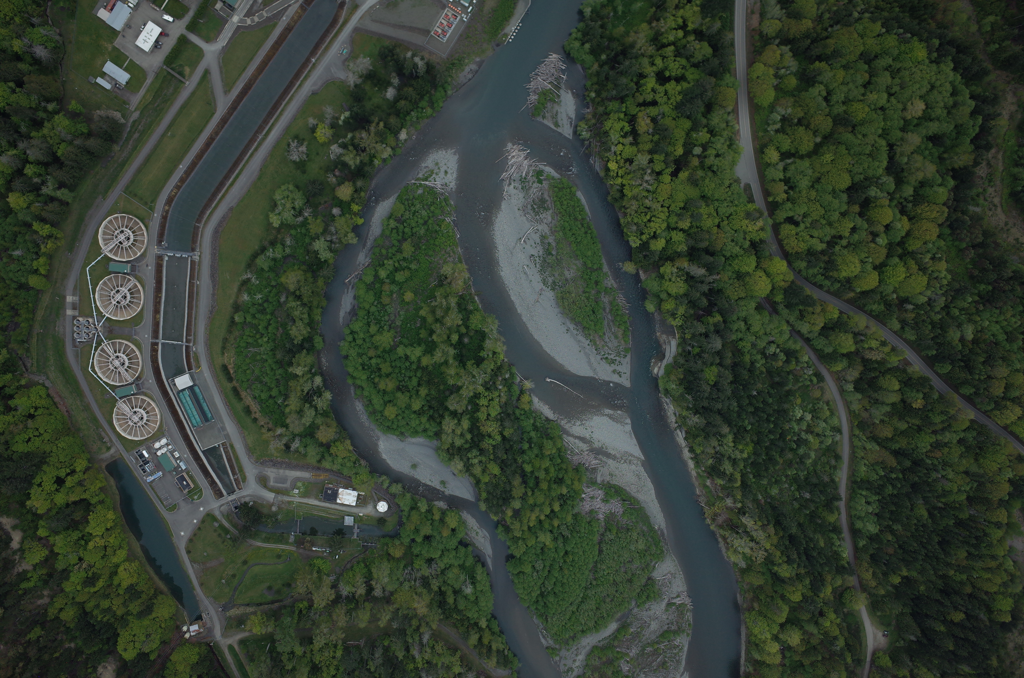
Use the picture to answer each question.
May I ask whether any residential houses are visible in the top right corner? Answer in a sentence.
No, I can find no residential house in the top right corner.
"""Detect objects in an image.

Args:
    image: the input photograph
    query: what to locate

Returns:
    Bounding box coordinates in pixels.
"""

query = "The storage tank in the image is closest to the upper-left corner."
[99,214,149,261]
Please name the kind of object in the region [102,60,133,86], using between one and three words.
house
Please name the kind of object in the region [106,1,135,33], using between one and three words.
building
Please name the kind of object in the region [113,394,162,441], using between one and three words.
storage tank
